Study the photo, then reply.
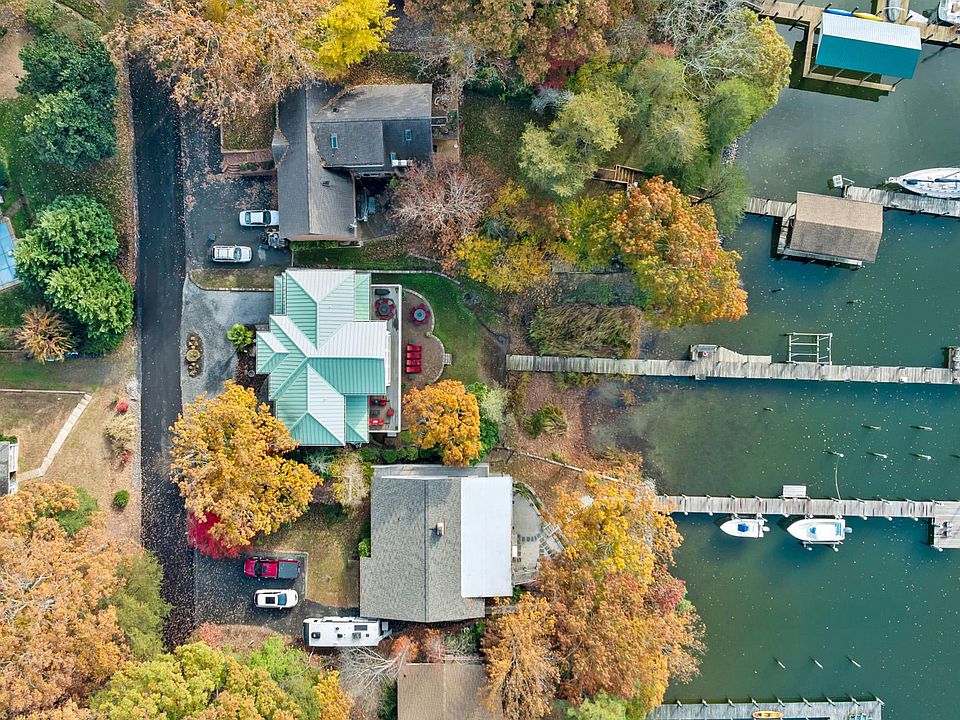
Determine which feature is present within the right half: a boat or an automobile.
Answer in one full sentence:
There is a boat within the right half.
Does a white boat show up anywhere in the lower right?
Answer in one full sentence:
Yes, you'll find a white boat in the lower right.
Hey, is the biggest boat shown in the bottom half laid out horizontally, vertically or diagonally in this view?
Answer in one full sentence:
I'd say the biggest boat shown in the bottom half is aligned horizontally in the picture.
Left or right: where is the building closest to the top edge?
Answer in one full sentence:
The building closest to the top edge is on the right side of the image.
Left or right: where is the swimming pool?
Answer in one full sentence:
The swimming pool sits on the left side.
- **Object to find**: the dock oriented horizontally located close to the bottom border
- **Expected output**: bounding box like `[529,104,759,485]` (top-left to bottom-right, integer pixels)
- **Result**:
[640,694,886,720]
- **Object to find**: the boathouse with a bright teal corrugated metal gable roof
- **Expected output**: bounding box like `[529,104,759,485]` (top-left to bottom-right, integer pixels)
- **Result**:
[802,12,922,86]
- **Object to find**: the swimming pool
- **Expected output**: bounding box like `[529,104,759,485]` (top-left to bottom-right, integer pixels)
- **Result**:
[0,213,24,287]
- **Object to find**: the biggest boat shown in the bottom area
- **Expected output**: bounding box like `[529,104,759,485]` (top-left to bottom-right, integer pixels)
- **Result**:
[785,518,854,541]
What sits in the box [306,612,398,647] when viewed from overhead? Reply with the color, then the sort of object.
white trailer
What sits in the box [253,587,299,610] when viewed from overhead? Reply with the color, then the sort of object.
white car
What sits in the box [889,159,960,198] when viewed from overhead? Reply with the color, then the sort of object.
white boat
